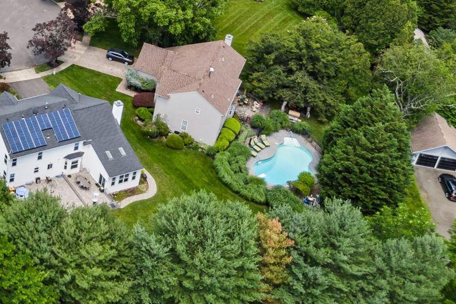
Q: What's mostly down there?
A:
trees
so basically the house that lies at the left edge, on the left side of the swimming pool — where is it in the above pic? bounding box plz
[0,82,144,189]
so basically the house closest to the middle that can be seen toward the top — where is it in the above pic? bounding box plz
[131,30,247,143]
